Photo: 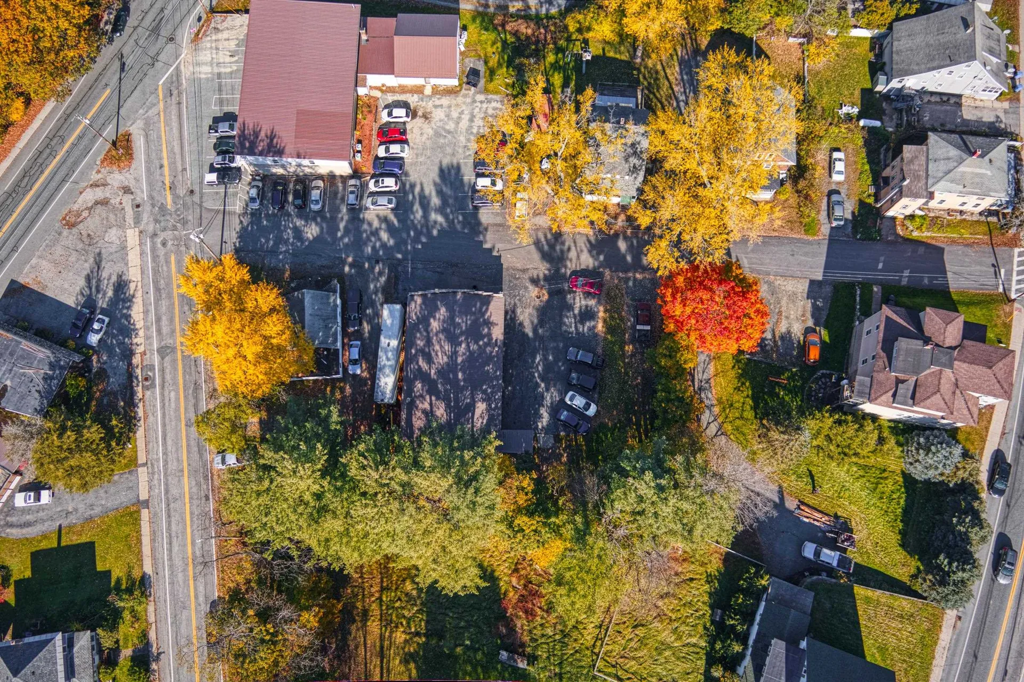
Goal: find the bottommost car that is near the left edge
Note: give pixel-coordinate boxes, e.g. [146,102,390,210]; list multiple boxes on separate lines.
[14,489,56,507]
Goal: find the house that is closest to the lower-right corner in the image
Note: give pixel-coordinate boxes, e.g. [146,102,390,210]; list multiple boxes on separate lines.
[717,575,897,682]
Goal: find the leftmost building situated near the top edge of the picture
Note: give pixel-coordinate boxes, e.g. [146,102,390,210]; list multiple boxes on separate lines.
[236,0,365,175]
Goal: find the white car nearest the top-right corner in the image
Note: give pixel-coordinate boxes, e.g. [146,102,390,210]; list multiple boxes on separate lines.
[828,152,845,181]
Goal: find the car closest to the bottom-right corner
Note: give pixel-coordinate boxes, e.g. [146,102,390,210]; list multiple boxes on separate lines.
[993,545,1015,584]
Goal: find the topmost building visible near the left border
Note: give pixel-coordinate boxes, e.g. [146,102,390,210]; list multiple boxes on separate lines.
[0,323,96,418]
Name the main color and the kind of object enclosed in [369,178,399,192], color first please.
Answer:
white car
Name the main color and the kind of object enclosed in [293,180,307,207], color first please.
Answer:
black car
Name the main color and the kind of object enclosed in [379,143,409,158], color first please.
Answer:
white car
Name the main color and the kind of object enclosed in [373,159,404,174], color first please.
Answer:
blue car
